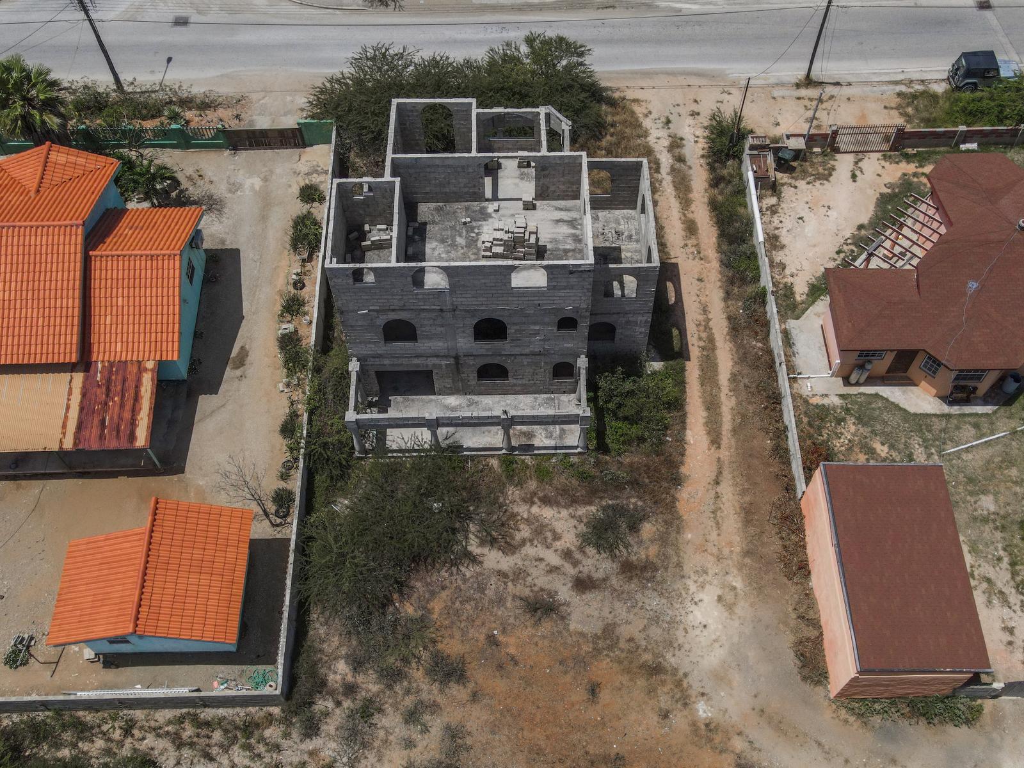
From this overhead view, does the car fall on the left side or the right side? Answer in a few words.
right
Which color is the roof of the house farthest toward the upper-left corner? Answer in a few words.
orange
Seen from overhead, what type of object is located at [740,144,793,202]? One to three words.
building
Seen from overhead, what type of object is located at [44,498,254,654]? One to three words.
shed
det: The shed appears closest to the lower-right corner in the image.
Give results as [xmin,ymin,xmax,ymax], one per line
[800,462,991,695]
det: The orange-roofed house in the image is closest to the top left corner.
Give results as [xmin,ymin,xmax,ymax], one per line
[0,137,209,379]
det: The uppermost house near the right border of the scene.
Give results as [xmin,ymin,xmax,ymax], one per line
[819,152,1024,404]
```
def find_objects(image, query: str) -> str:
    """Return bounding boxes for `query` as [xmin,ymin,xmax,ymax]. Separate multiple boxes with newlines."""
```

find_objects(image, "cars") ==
[946,41,1024,85]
